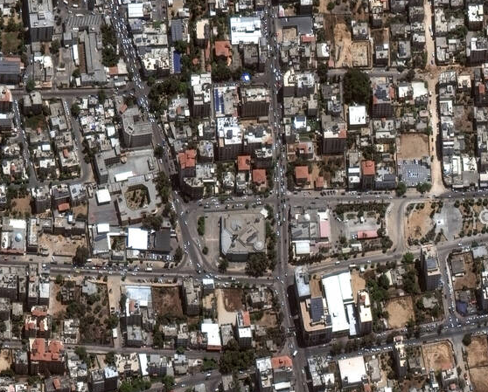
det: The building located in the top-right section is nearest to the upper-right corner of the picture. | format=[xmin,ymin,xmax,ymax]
[467,4,482,29]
